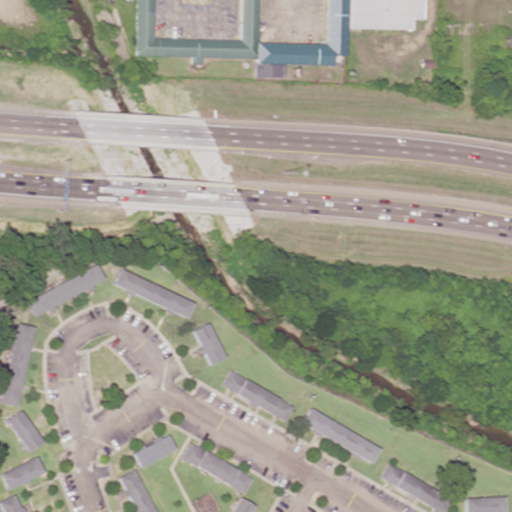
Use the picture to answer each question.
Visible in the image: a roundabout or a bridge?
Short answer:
bridge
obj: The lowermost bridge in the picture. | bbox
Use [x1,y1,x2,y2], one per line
[108,174,253,218]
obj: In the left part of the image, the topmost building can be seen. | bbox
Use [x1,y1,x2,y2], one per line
[136,0,258,65]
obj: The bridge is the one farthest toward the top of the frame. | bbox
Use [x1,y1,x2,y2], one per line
[72,110,220,152]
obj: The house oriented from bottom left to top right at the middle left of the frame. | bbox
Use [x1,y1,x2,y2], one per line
[28,263,106,318]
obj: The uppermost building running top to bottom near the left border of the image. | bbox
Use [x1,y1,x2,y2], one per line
[0,322,36,406]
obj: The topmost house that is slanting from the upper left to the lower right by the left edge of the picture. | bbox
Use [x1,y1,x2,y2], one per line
[7,410,43,452]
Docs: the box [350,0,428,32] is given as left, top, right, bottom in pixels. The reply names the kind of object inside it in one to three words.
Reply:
building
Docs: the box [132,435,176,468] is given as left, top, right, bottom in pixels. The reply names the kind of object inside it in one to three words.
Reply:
house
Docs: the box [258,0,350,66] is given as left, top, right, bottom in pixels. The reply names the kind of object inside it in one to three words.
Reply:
building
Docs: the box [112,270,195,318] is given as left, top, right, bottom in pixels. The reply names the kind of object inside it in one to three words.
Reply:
house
